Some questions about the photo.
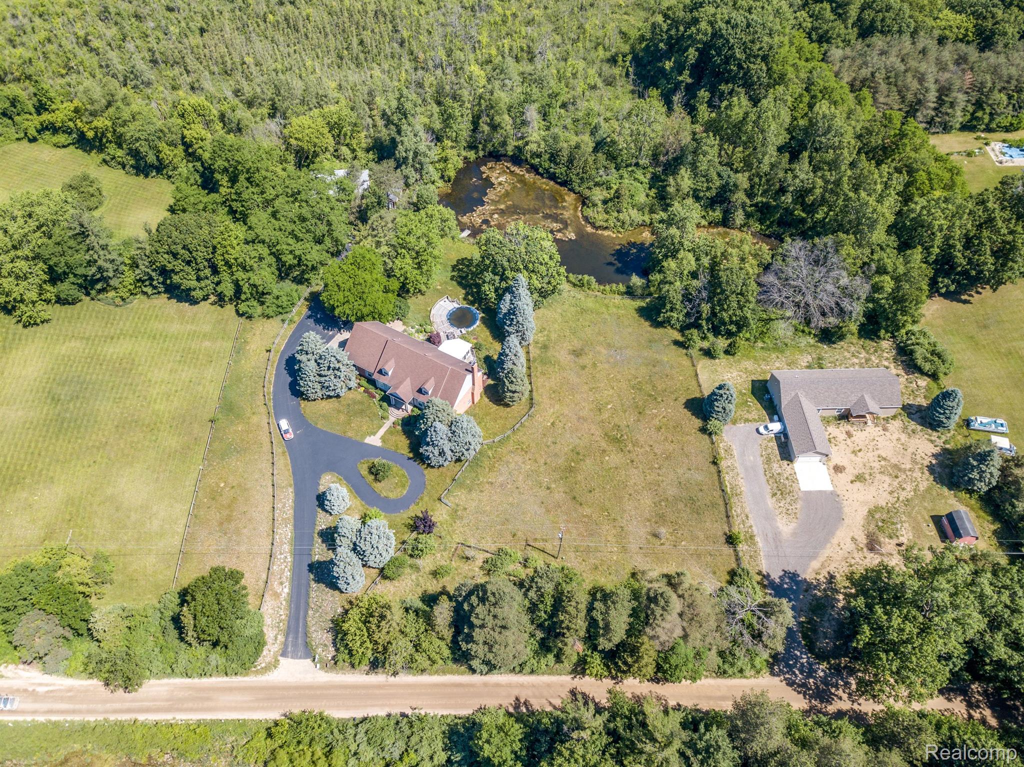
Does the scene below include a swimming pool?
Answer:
Yes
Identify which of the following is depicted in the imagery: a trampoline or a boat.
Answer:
boat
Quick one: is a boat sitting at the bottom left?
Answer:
No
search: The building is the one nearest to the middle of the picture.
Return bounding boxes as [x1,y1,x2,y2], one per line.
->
[343,319,485,420]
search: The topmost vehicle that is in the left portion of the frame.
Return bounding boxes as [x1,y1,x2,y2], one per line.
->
[278,419,293,441]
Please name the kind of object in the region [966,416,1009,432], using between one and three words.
boat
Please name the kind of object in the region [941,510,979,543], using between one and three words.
shed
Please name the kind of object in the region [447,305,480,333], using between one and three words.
swimming pool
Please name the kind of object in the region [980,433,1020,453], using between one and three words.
boat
